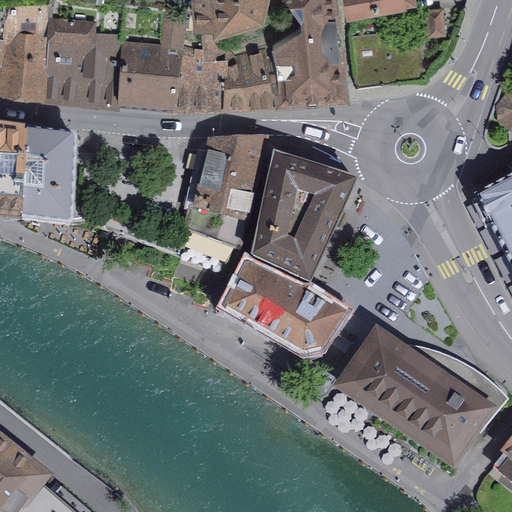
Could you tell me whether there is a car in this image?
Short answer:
Yes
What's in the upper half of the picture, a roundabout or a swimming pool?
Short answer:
roundabout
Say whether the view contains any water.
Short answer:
Yes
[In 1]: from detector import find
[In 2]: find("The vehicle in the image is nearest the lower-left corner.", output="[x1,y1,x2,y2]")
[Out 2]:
[146,280,170,298]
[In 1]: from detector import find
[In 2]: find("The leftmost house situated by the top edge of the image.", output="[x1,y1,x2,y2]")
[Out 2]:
[0,4,49,104]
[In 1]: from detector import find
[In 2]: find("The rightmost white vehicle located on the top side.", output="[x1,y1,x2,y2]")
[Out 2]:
[454,134,466,156]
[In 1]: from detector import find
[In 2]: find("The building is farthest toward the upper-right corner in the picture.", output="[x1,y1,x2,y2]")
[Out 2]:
[427,8,446,39]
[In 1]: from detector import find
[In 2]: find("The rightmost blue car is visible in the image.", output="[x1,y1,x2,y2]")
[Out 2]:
[470,79,484,102]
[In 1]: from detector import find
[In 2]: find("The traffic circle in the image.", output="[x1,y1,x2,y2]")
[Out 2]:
[349,92,464,204]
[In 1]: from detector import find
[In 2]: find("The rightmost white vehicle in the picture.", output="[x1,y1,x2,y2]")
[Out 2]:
[495,294,509,315]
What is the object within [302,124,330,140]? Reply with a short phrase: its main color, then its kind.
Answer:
white vehicle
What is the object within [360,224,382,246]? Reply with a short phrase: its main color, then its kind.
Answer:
white car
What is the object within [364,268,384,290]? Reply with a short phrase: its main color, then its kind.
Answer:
white car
